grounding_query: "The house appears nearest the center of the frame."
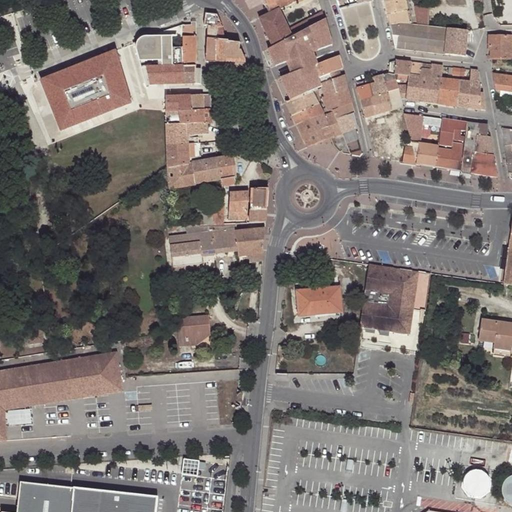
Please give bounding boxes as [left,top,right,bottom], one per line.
[236,224,264,262]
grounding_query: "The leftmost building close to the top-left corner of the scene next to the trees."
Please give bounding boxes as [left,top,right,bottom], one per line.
[40,48,130,130]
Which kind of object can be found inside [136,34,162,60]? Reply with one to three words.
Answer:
building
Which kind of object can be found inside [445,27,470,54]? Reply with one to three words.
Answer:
house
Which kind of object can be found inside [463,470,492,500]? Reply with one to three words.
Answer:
building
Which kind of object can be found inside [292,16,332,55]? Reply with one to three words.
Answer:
house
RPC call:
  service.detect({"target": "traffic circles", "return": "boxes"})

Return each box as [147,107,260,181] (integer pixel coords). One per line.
[277,165,339,227]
